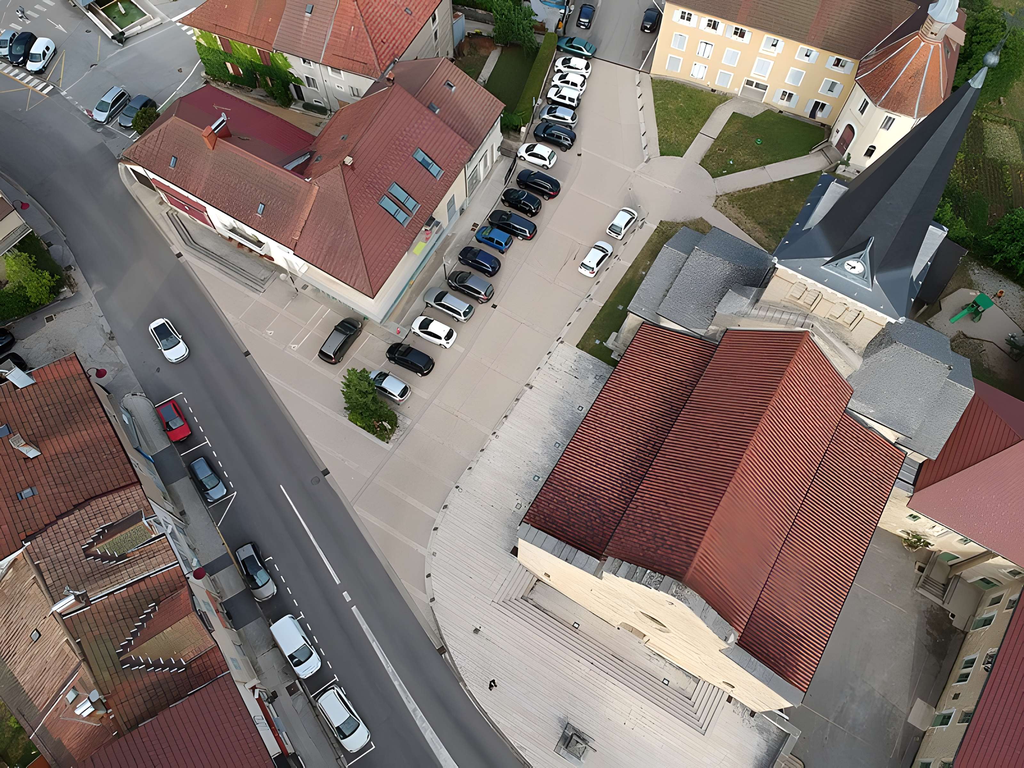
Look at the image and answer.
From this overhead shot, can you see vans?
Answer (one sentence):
Yes, this view includes a van.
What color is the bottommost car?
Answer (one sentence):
In this view, the bottommost car is white.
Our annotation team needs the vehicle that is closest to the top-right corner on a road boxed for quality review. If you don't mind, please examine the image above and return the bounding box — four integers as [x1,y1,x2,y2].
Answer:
[638,9,660,35]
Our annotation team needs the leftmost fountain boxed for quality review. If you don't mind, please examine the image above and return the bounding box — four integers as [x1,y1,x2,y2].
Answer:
[75,0,164,46]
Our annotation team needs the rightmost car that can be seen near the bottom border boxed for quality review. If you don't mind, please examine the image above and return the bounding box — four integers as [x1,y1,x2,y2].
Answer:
[316,682,370,754]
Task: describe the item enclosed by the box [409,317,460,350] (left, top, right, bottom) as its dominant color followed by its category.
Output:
white car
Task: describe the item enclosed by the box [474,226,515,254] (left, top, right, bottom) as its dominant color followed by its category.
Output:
blue car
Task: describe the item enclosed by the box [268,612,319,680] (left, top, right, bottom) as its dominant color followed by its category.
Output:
white van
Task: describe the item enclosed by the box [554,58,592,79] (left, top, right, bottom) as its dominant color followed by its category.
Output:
white car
